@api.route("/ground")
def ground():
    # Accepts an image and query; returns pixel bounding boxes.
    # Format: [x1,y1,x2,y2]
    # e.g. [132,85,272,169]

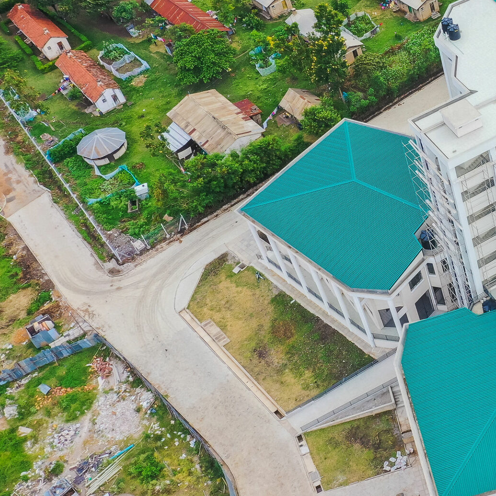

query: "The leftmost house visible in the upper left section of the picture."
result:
[7,0,73,60]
